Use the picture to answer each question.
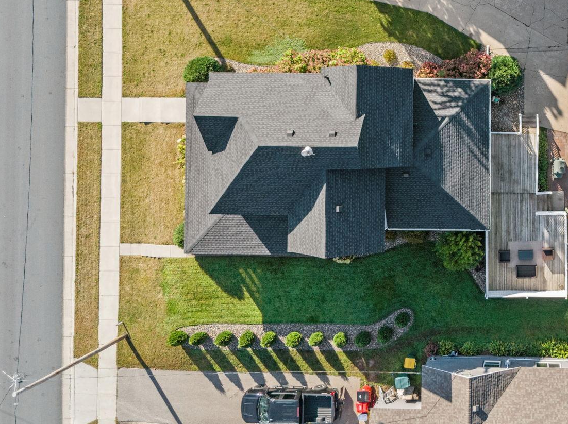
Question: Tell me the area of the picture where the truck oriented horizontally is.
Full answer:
Look in the bottom portion of the view to spot the truck oriented horizontally.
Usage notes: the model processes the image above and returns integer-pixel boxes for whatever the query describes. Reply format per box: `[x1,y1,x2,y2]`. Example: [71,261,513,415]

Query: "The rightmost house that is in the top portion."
[186,65,493,259]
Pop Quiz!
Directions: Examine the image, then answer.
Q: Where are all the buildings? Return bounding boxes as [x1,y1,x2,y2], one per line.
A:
[186,65,493,259]
[369,355,568,424]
